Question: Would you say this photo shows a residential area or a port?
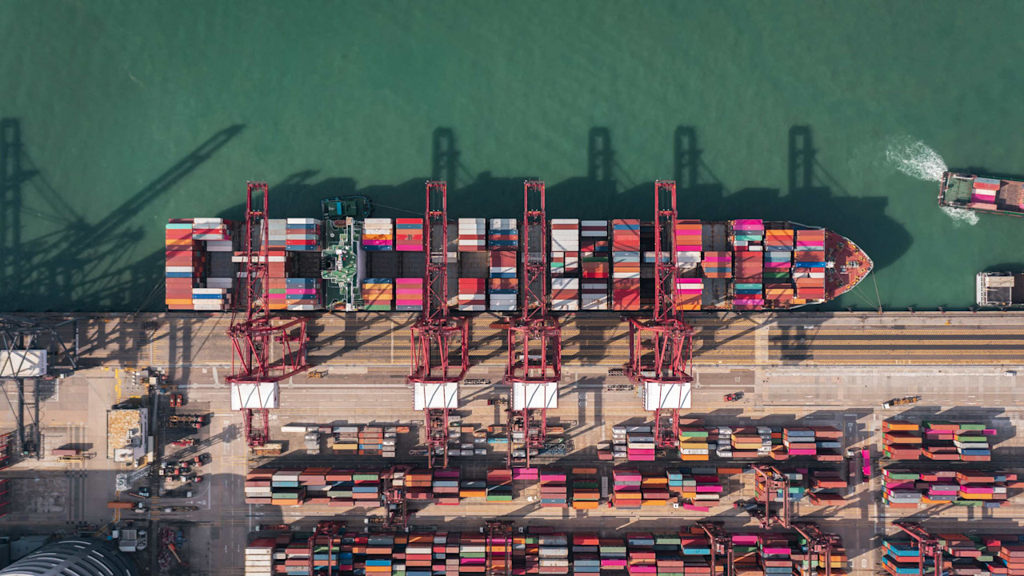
port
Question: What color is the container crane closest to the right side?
red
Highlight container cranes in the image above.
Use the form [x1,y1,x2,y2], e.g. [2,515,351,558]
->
[698,520,735,576]
[0,297,109,449]
[486,520,513,576]
[382,461,414,534]
[894,520,942,576]
[307,520,343,576]
[749,462,790,534]
[506,405,532,469]
[223,181,321,449]
[614,181,693,449]
[404,181,478,449]
[499,181,564,449]
[790,520,832,576]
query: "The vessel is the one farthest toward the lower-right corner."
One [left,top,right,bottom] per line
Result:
[976,272,1024,308]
